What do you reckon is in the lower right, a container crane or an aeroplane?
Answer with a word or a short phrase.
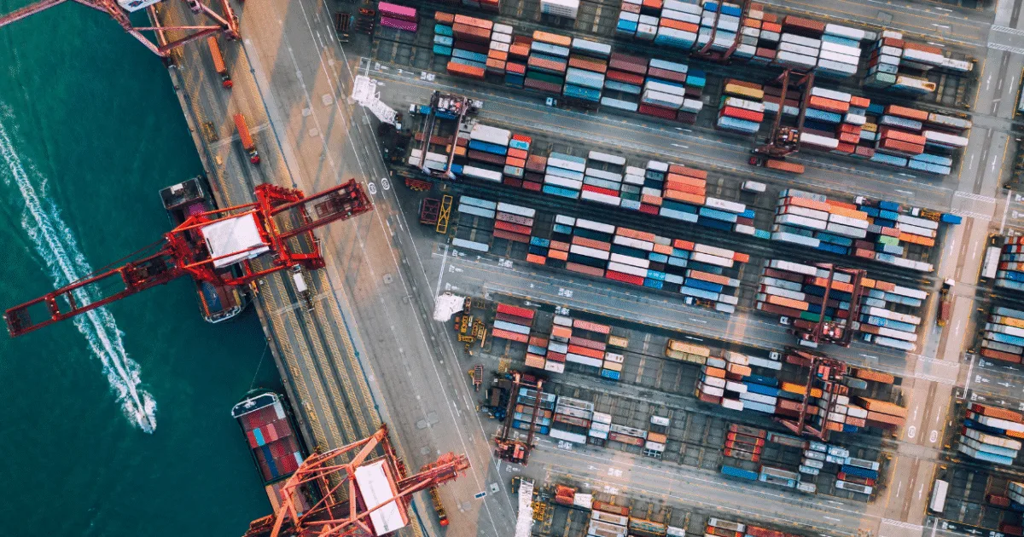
container crane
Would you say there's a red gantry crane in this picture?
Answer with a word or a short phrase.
Yes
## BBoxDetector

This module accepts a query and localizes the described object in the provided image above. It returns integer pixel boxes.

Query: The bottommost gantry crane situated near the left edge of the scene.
[4,179,376,337]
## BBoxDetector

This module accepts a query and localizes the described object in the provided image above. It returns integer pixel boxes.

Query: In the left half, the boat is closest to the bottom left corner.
[138,412,152,434]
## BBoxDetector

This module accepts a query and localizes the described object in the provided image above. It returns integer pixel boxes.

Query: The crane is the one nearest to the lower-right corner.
[768,346,847,439]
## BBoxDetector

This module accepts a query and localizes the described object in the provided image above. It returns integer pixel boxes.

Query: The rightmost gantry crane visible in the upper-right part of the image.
[745,63,818,158]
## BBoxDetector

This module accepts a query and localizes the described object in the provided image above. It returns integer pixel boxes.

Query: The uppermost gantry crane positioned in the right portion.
[689,0,752,66]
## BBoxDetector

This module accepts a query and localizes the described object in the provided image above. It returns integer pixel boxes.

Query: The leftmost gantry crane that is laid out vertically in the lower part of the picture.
[493,367,550,466]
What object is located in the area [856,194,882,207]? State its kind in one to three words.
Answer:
vehicle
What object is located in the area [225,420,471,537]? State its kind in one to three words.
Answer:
container crane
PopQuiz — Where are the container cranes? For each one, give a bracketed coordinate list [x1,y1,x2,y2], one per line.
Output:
[788,258,864,346]
[493,367,550,466]
[745,63,818,158]
[768,346,847,439]
[225,420,471,537]
[4,179,376,337]
[416,87,474,184]
[0,0,244,58]
[689,0,752,66]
